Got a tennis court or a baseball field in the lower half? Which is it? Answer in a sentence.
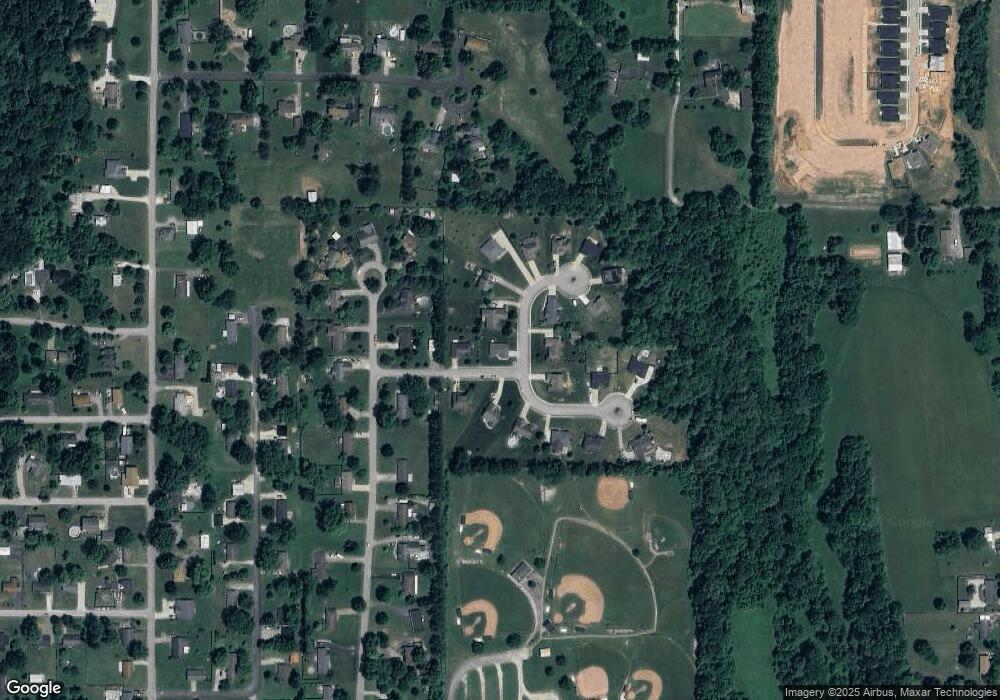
The feature located in the lower half is a baseball field.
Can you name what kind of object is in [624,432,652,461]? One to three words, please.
house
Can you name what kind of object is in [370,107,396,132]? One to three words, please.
house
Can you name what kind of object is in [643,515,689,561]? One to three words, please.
baseball field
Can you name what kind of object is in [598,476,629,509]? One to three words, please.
baseball field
